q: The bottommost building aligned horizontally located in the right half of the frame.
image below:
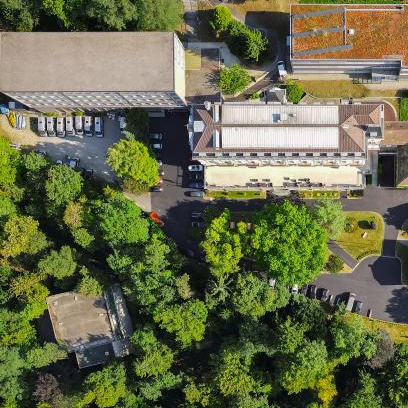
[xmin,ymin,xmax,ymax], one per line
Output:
[190,102,385,197]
